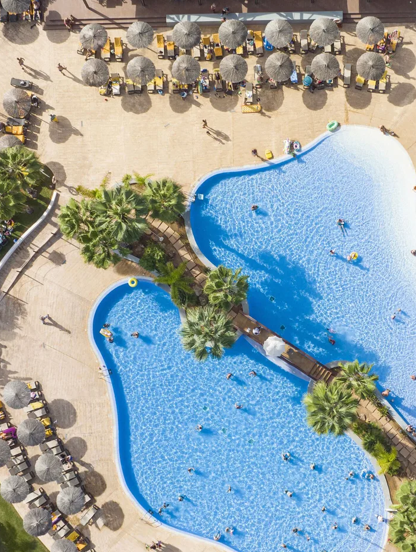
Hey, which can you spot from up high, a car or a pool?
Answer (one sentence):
Looking from above, you can make out a pool.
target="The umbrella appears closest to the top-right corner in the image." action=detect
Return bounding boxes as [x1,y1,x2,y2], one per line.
[355,18,384,48]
